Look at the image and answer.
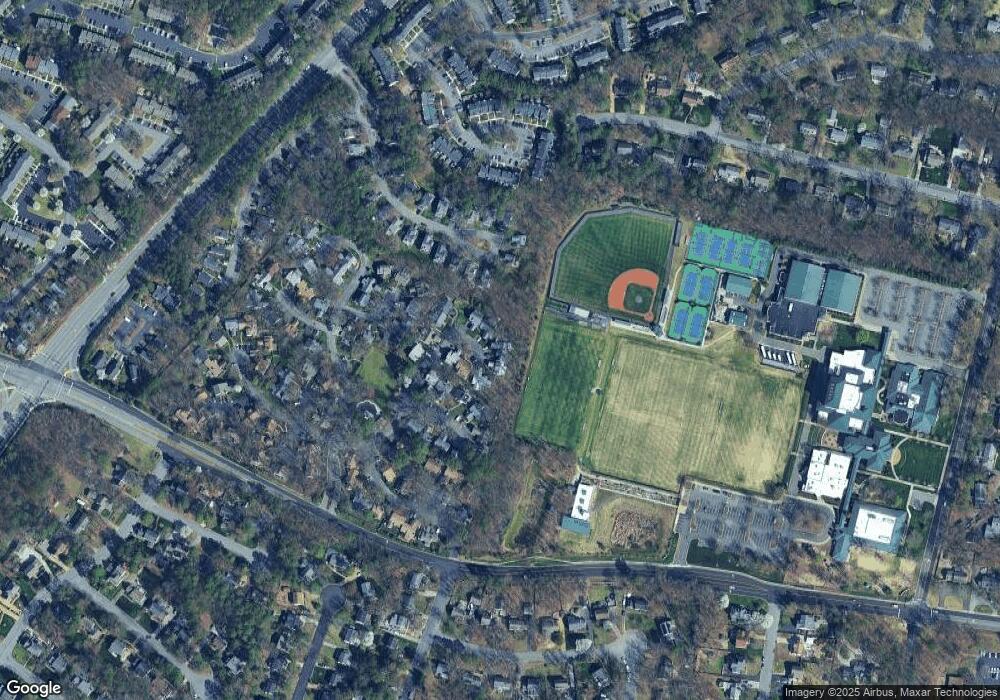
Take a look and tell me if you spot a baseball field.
Yes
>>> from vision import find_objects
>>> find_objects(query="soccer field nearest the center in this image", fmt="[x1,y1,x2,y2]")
[516,317,606,448]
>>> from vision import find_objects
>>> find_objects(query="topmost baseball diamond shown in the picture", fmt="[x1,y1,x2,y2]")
[550,207,676,333]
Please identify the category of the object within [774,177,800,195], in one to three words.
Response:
house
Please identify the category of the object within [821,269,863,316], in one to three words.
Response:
building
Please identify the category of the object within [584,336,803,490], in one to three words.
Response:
sports field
